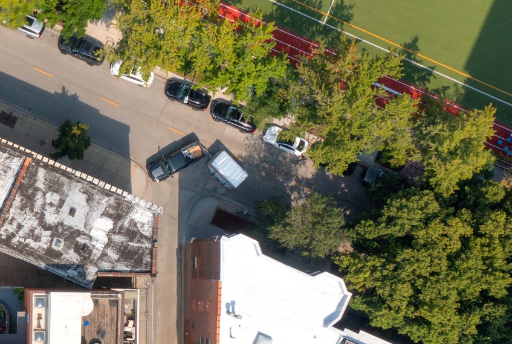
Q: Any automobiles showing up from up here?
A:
Yes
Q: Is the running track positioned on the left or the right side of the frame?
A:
right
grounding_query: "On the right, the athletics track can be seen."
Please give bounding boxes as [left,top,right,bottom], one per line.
[173,0,512,162]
